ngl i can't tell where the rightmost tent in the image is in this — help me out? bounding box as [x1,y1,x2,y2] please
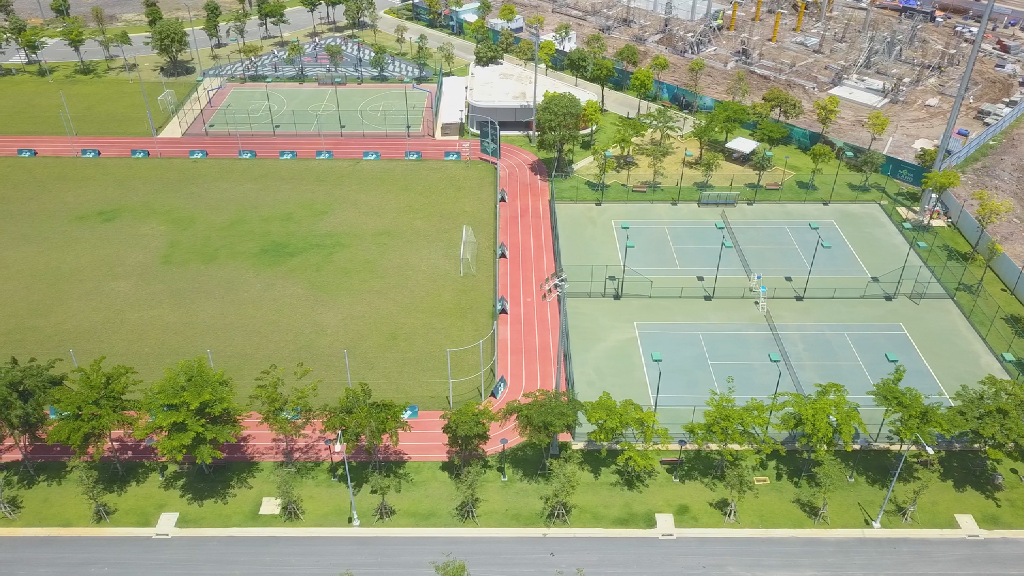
[717,135,763,174]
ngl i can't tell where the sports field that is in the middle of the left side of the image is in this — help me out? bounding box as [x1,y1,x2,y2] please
[0,157,497,410]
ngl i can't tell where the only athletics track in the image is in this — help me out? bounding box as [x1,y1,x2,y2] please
[0,136,568,461]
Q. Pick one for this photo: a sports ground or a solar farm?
sports ground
